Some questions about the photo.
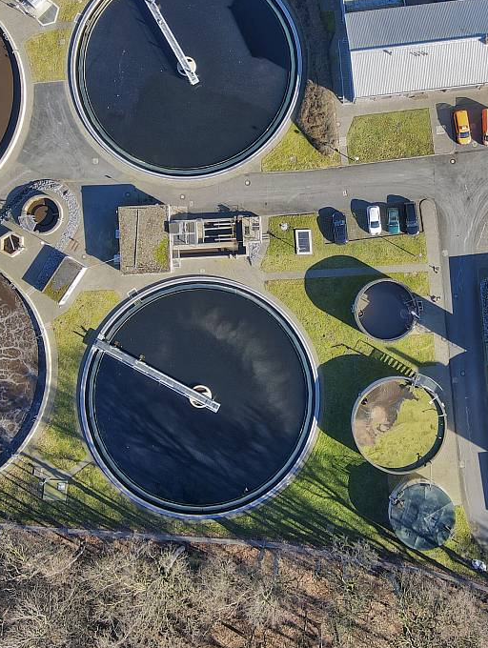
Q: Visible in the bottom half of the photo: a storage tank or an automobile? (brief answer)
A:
storage tank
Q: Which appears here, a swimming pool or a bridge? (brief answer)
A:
bridge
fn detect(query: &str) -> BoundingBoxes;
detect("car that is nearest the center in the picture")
[330,210,347,243]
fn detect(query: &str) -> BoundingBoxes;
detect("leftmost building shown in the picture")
[42,256,89,305]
